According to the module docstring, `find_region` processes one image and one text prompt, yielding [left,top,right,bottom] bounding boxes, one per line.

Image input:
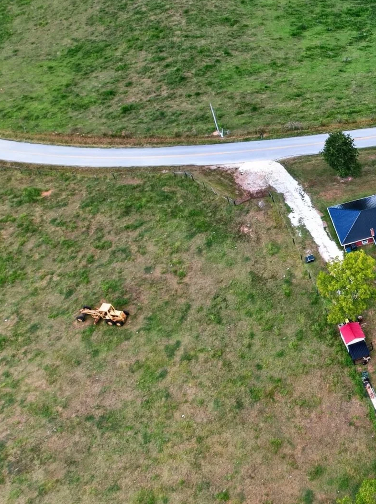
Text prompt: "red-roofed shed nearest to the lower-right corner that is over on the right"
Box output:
[340,324,365,354]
